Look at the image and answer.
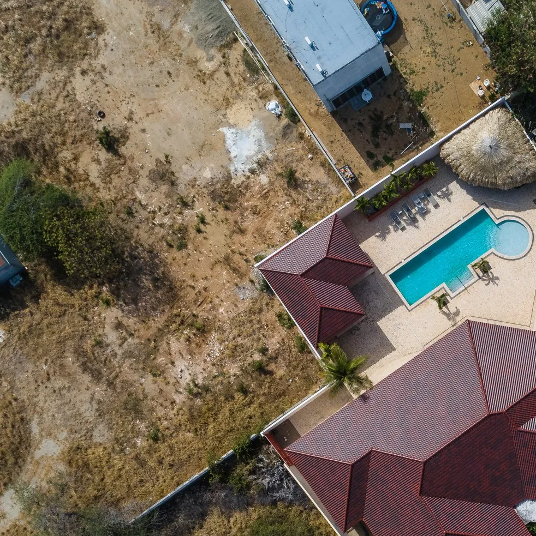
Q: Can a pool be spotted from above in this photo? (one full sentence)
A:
Yes, this view includes a pool.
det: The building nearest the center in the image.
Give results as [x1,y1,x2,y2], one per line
[258,214,373,348]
